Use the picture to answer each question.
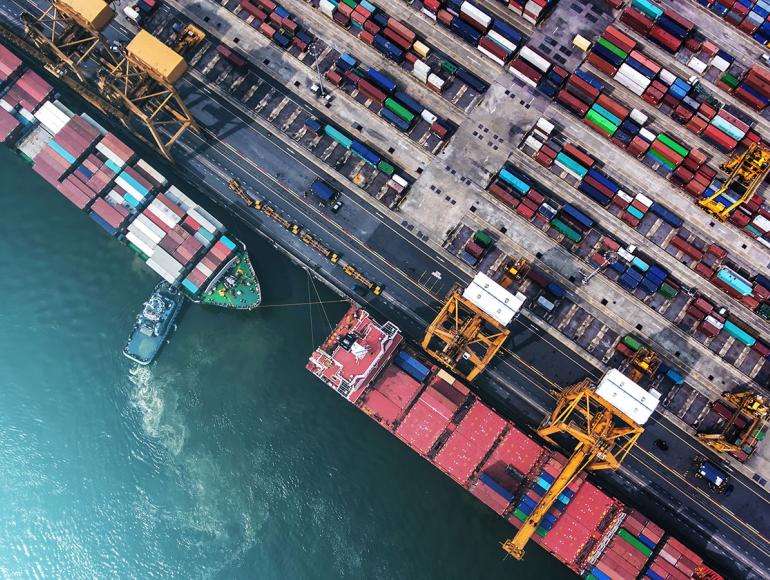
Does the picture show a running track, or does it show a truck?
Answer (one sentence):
Of the two, only a truck appears.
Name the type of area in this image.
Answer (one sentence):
This image shows a port.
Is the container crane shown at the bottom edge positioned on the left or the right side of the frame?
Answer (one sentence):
The container crane shown at the bottom edge sits on the right side.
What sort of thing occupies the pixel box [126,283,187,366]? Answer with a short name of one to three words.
boat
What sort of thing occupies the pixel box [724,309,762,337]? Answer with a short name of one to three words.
shipping container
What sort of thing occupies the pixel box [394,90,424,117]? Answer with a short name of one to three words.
shipping container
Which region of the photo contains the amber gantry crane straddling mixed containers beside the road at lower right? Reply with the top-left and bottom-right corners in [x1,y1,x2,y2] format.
[697,390,770,452]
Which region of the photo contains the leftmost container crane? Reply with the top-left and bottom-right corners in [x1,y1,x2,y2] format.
[9,0,132,116]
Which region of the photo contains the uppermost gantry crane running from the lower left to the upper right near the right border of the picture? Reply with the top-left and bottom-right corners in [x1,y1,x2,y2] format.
[696,147,770,223]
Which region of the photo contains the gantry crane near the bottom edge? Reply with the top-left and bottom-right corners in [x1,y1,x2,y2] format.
[500,369,665,566]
